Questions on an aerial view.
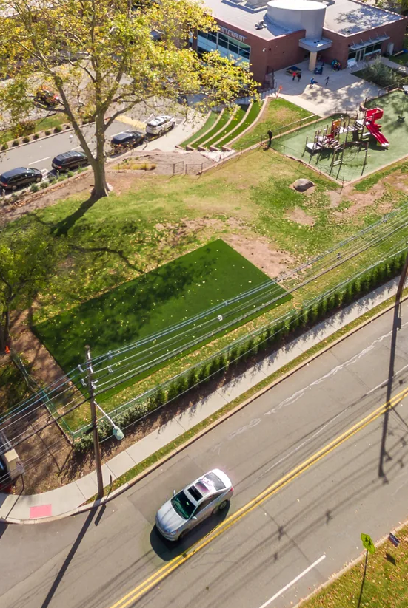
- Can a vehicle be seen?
Yes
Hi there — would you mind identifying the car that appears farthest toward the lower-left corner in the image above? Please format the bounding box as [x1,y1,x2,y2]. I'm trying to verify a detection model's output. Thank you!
[149,466,235,539]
